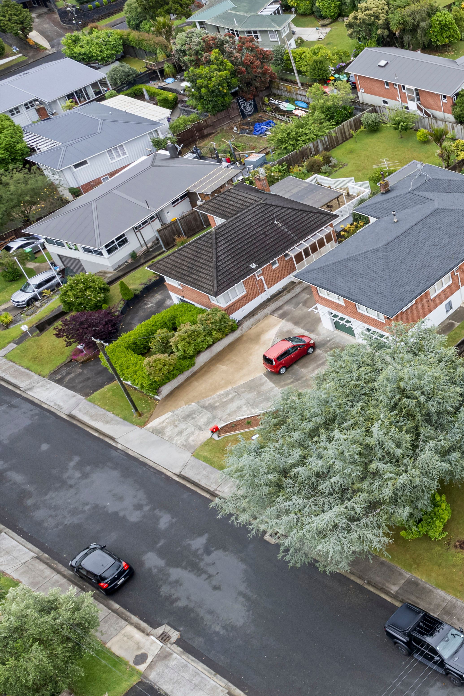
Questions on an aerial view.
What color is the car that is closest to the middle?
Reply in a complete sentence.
The color of the car that is closest to the middle is red.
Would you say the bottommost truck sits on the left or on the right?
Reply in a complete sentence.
The bottommost truck sits on the right side.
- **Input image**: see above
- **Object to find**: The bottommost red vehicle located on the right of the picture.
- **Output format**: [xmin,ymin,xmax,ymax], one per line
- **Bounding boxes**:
[257,336,313,373]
